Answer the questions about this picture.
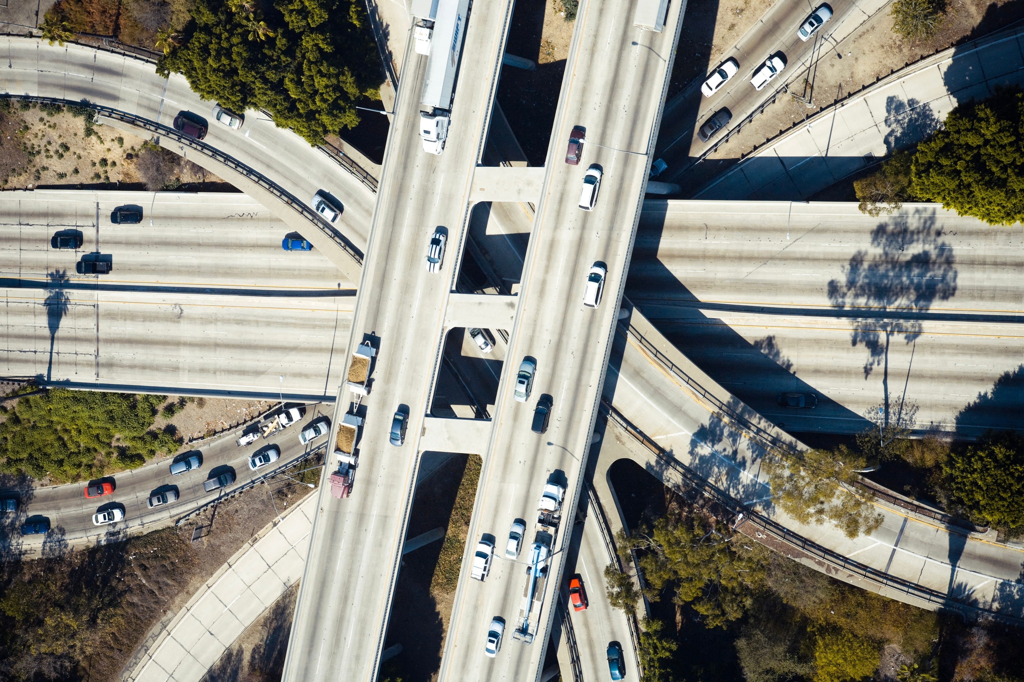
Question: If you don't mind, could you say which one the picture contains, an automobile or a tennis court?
automobile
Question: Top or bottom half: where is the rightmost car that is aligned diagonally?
top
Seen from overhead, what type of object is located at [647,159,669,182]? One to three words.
car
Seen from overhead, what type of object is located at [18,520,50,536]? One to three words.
vehicle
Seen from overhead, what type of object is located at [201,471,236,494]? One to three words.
truck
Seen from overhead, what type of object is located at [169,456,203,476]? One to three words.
car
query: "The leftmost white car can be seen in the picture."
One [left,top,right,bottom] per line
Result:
[92,508,126,526]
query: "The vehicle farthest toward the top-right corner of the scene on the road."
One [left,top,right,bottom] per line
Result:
[796,5,834,42]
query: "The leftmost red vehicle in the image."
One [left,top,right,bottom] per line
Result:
[84,482,116,499]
